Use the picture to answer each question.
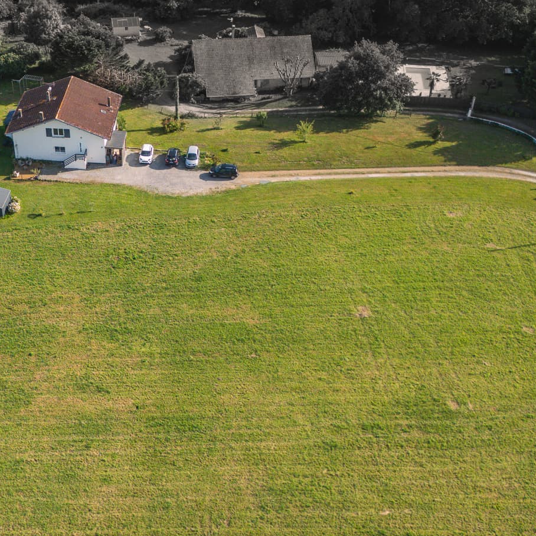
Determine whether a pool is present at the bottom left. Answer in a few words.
No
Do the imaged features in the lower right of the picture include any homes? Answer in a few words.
No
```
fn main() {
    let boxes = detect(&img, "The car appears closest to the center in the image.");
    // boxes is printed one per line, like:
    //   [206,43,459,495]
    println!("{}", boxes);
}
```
[207,161,240,178]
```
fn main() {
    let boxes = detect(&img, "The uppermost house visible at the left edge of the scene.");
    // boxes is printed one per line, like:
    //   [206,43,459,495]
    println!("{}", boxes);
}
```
[4,76,128,166]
